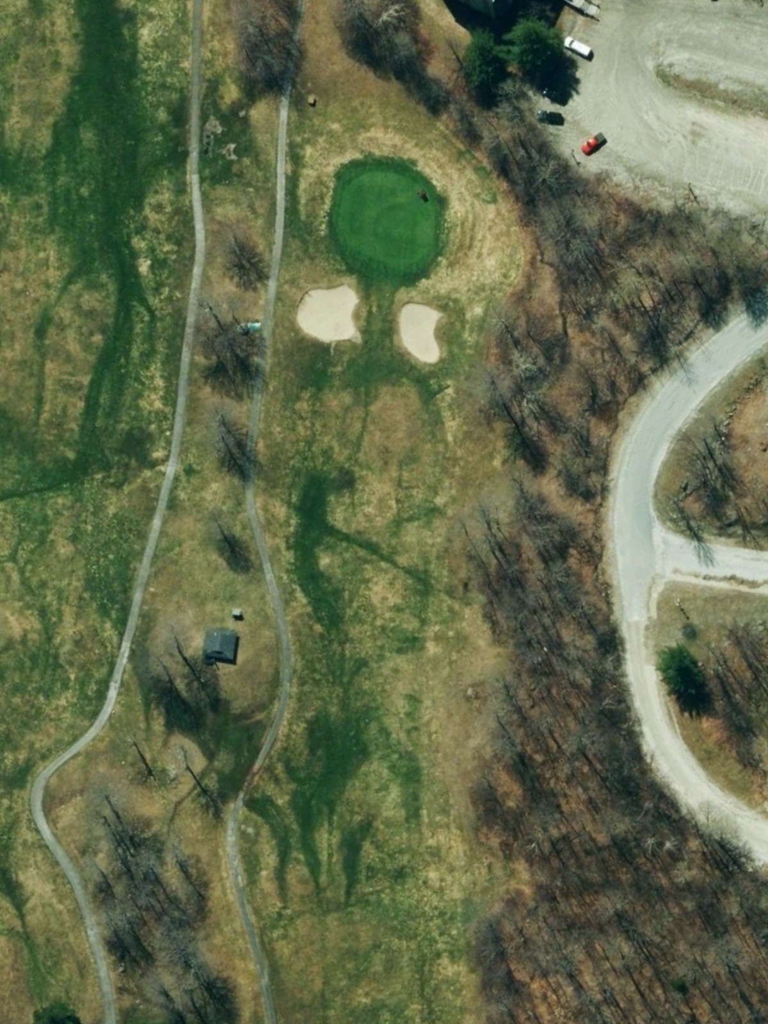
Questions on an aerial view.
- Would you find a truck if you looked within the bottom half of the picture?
No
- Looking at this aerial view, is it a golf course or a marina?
golf course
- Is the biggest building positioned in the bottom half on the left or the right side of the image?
left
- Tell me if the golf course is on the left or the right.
left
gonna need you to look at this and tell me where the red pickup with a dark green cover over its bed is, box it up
[581,131,607,155]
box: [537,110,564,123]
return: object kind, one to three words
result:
vehicle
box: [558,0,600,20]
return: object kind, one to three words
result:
vehicle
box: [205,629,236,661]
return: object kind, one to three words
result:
building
